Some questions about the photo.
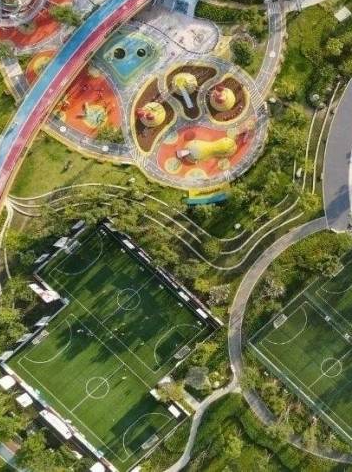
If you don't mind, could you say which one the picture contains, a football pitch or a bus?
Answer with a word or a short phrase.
football pitch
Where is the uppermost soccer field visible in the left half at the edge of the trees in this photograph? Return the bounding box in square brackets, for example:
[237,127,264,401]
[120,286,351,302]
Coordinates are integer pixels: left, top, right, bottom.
[36,221,222,383]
